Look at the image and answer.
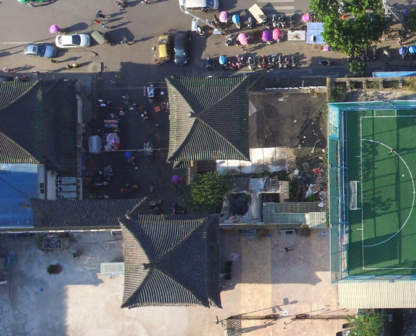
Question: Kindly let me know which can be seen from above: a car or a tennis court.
car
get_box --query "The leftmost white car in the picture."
[55,32,93,49]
